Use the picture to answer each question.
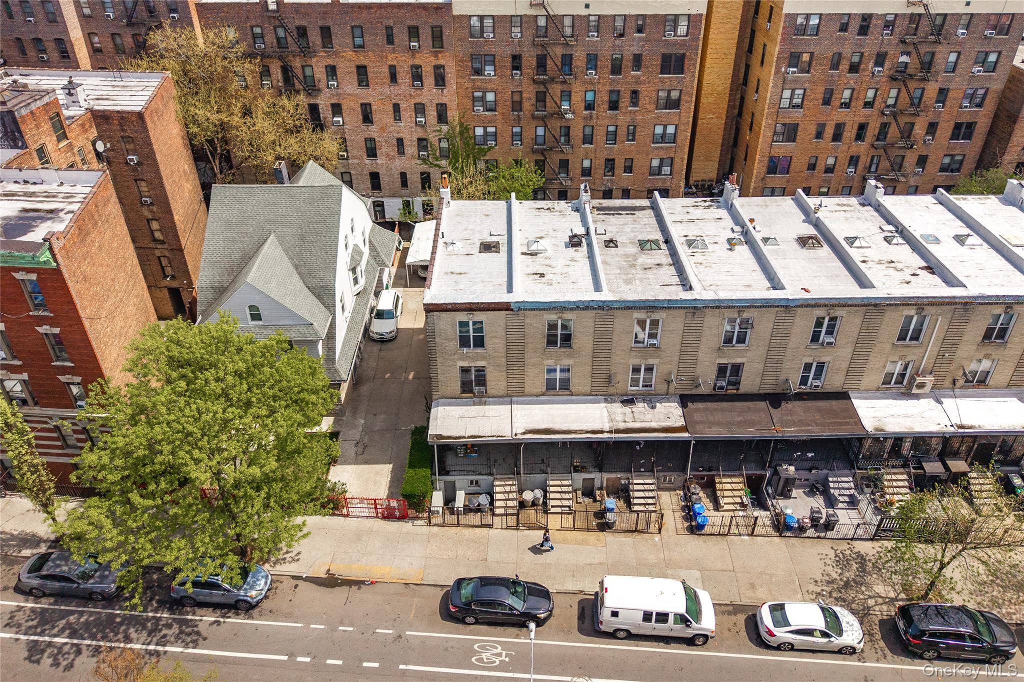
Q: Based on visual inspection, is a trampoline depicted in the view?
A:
No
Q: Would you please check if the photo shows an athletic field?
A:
No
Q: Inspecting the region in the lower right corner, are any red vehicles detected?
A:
No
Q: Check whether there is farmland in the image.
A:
No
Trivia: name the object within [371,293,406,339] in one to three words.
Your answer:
car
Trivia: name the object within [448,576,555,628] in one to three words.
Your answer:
car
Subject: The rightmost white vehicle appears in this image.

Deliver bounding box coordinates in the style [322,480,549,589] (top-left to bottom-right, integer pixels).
[759,602,871,655]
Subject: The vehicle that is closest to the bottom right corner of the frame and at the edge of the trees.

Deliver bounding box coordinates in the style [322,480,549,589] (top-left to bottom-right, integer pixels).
[897,603,1024,665]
